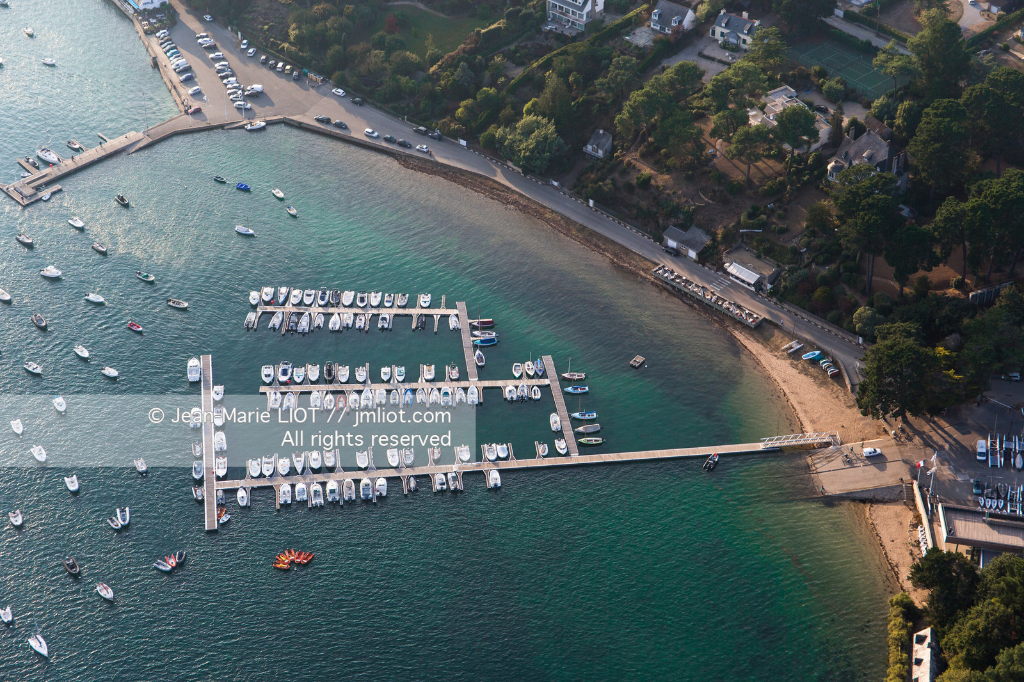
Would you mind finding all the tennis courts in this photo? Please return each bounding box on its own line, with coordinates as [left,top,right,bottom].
[780,26,923,100]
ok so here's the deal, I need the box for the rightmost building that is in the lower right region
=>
[936,505,1024,581]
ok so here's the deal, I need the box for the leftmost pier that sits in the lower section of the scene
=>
[200,355,218,531]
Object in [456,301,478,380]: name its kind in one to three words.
pier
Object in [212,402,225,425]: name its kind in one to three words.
boat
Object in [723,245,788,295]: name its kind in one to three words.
building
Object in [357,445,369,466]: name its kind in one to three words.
boat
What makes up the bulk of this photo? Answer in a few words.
water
